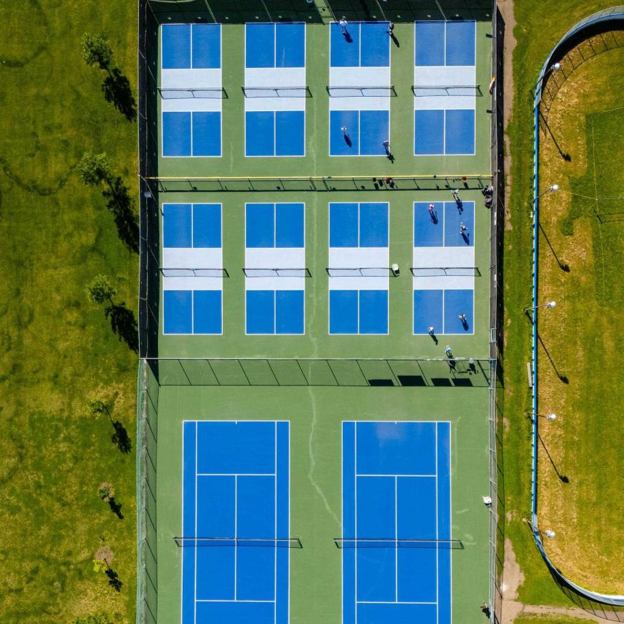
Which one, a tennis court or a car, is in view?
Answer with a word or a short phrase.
tennis court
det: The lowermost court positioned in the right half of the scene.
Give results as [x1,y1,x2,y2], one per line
[342,422,451,624]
